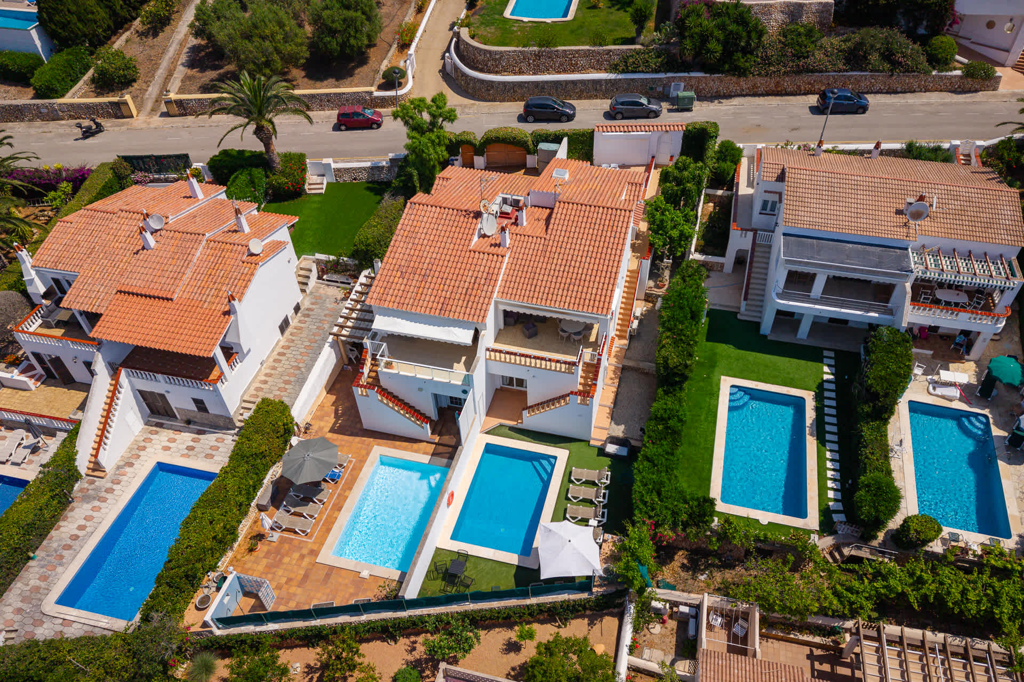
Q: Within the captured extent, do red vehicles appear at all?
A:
Yes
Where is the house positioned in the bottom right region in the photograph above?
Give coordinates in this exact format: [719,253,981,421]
[690,593,808,682]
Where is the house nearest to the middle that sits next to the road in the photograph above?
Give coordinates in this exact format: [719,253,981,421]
[352,156,660,450]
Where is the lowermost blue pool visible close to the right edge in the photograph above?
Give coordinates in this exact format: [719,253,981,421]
[895,395,1024,552]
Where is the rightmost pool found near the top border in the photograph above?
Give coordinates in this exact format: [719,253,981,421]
[498,0,585,23]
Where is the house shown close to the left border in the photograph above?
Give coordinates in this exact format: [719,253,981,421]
[0,175,308,475]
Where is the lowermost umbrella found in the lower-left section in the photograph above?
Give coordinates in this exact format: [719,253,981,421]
[257,513,280,546]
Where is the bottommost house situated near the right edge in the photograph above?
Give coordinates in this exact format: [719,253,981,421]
[722,135,1024,363]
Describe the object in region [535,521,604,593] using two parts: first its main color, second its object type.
white umbrella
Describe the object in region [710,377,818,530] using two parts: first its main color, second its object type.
blue swimming pool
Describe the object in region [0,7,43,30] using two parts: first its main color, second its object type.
blue swimming pool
